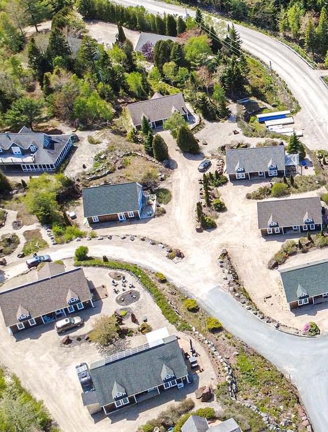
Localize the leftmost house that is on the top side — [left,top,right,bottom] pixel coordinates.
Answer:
[0,119,77,179]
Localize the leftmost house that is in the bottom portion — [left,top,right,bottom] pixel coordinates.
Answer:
[0,263,94,334]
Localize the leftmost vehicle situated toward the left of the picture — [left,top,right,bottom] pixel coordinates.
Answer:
[24,251,52,266]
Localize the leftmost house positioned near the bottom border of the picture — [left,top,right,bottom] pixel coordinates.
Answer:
[81,326,190,426]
